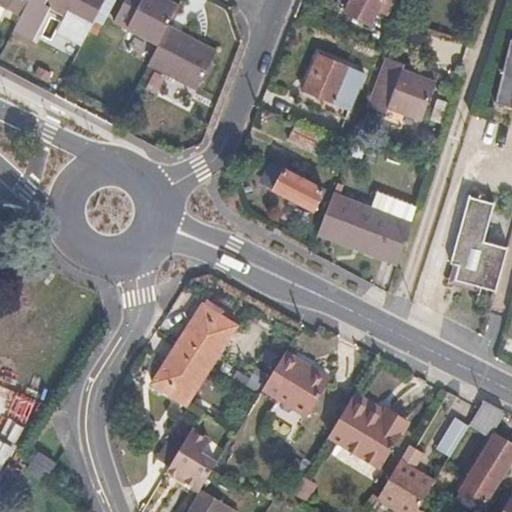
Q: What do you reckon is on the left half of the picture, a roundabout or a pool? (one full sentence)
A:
What appears on the left half of the picture is a roundabout.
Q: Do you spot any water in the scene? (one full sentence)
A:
No, there's no water in this view.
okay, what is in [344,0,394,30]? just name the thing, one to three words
house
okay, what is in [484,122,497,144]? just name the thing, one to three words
vehicle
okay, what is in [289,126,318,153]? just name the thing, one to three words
shed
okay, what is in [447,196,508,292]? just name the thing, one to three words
building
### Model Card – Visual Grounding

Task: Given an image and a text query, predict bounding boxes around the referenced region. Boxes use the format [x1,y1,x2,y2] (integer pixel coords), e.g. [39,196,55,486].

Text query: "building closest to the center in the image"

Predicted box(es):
[272,168,328,214]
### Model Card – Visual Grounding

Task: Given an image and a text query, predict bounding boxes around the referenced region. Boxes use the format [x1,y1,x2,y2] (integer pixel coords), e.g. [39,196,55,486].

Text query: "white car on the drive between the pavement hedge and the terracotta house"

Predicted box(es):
[165,310,186,328]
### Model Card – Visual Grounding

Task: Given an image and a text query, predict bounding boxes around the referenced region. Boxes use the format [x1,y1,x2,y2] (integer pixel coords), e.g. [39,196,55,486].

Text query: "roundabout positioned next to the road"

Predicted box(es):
[36,140,184,284]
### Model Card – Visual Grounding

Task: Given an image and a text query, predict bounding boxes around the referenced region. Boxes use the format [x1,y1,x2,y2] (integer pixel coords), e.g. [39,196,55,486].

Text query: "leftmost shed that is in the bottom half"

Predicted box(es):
[28,452,56,474]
